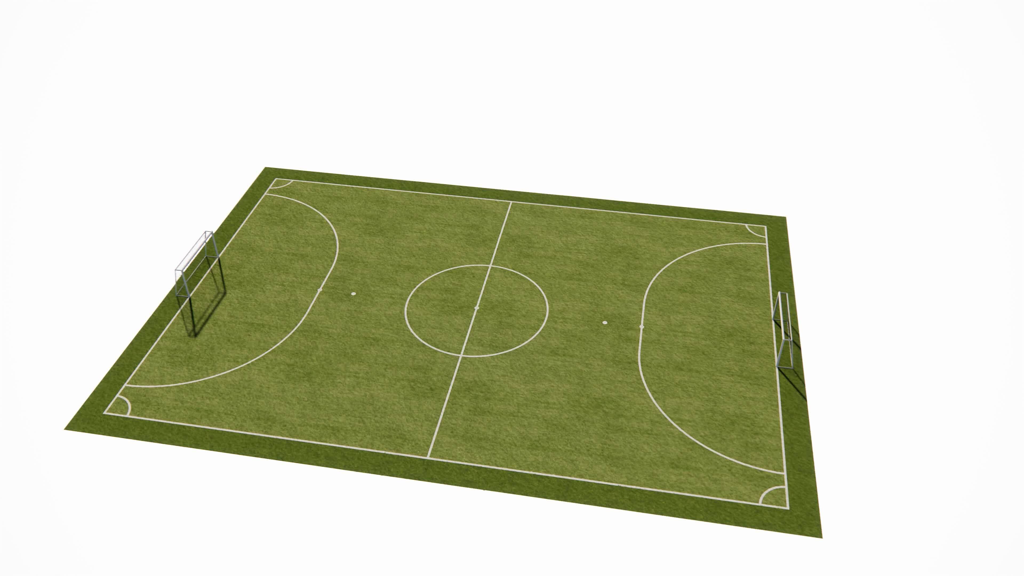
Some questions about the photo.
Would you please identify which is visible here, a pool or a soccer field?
soccer field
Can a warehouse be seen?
No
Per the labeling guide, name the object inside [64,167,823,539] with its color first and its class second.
green soccer field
